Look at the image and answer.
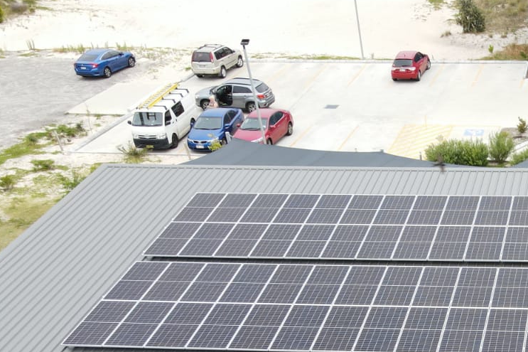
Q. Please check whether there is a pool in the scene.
No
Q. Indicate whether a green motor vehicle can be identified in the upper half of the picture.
No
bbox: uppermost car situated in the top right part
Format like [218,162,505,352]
[387,48,431,81]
